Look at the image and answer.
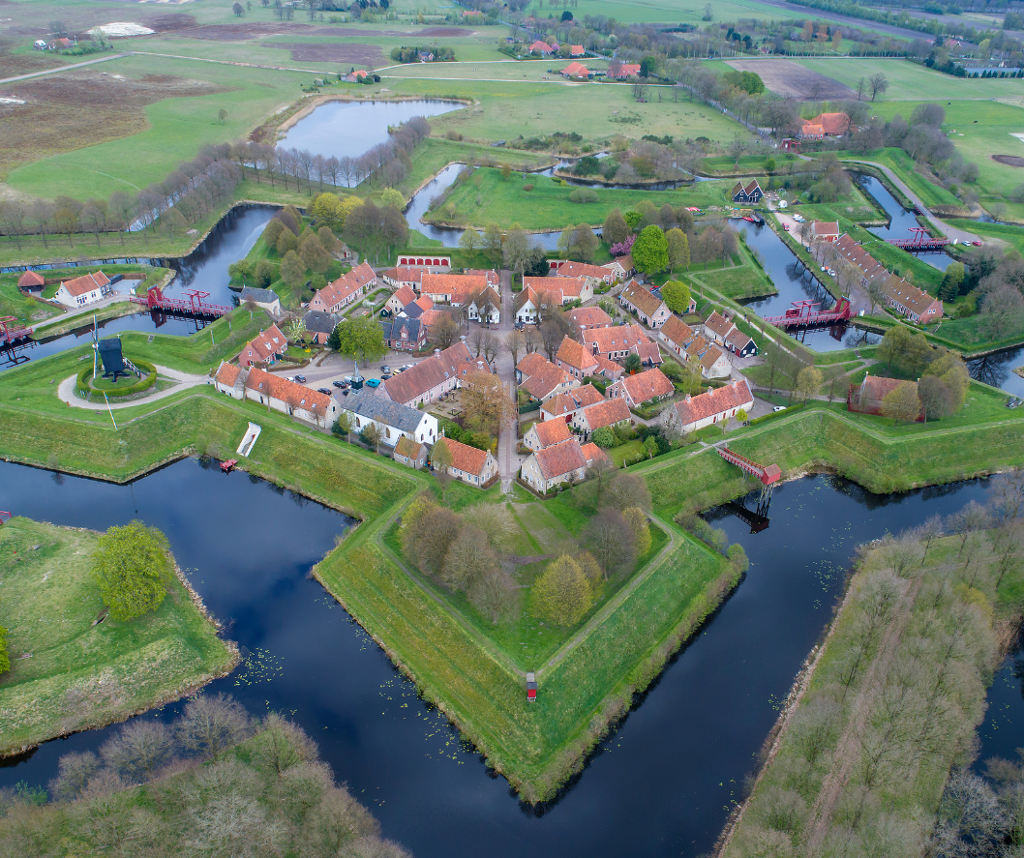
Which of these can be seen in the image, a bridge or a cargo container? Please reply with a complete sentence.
This aerial view contains a bridge.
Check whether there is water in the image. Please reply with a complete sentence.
Yes, there's water in this view.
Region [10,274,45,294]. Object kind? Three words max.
building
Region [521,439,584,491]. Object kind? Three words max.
house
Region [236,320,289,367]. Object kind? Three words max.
house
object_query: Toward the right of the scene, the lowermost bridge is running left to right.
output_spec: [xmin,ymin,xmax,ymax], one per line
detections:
[761,297,859,328]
